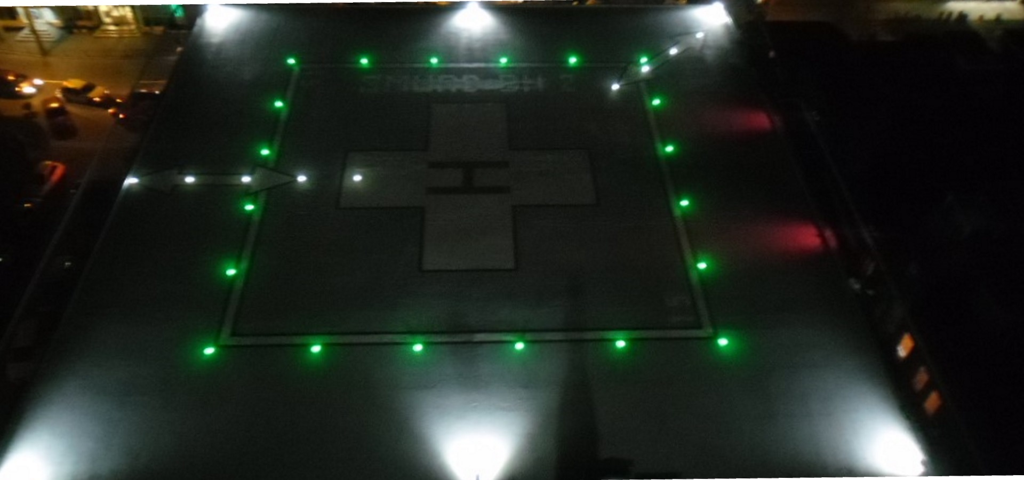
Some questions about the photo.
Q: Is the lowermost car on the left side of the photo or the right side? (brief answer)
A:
left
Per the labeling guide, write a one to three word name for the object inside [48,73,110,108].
car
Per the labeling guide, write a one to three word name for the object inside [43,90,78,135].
car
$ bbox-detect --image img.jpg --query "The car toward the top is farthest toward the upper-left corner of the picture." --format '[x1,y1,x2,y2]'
[0,65,44,99]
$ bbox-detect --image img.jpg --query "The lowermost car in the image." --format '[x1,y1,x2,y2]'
[11,164,72,214]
